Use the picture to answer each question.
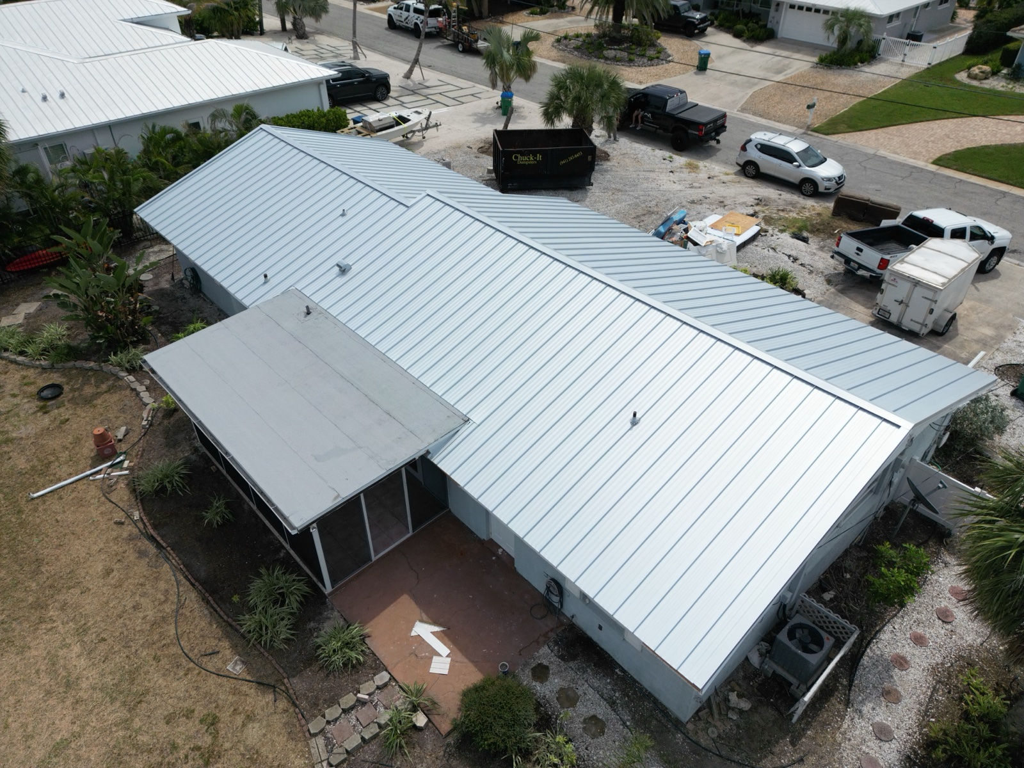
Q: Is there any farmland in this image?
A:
No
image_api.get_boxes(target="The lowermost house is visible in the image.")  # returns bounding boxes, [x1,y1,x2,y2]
[135,124,995,722]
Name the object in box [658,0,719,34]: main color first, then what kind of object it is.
black car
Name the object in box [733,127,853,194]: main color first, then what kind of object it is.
gray car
